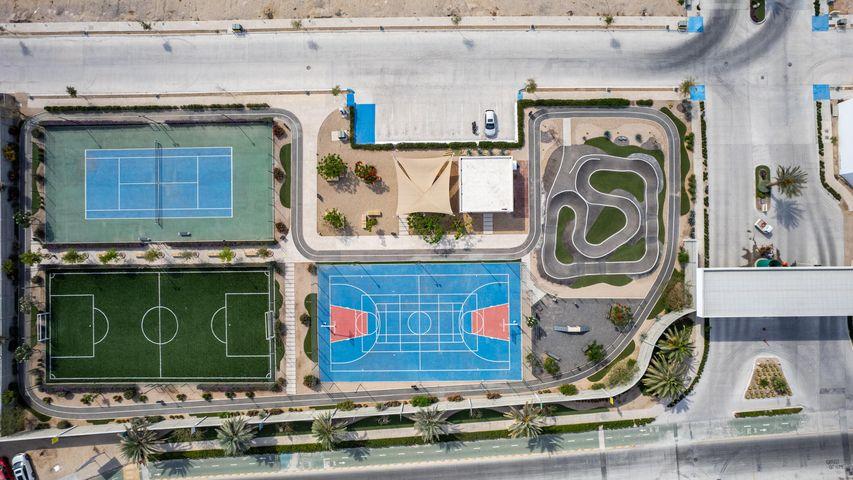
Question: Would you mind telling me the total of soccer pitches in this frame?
1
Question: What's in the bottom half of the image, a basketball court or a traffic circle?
basketball court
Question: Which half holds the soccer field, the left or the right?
left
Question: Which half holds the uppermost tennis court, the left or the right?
left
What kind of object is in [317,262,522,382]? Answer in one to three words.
basketball court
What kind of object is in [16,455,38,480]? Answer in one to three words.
car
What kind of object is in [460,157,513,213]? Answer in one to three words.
building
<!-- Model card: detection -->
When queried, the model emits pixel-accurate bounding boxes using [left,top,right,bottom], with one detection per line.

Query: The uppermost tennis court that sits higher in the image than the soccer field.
[44,122,275,243]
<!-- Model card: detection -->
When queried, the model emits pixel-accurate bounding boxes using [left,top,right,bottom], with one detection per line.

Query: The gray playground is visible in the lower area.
[532,294,643,381]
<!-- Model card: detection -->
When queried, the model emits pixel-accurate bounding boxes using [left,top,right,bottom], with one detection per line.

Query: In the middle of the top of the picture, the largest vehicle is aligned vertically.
[484,109,497,137]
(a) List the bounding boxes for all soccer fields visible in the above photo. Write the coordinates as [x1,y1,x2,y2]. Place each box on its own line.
[46,263,275,384]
